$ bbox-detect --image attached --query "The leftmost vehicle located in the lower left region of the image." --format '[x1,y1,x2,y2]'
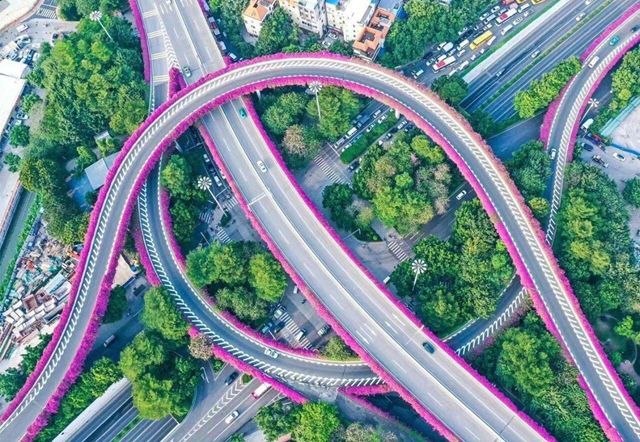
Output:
[101,331,119,348]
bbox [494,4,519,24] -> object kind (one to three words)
bus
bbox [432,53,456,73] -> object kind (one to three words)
bus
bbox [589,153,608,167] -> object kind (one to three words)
vehicle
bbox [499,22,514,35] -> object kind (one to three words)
vehicle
